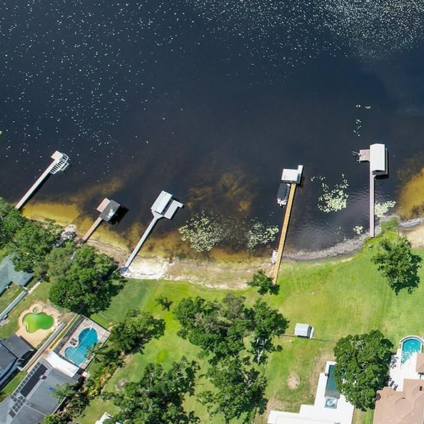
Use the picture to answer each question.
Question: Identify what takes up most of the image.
water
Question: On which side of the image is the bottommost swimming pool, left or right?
right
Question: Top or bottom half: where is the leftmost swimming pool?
bottom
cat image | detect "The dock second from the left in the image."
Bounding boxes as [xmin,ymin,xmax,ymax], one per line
[80,196,131,243]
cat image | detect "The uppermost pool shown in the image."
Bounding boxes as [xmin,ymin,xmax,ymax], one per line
[21,307,55,334]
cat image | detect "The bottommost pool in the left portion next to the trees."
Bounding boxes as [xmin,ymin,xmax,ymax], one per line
[62,326,99,365]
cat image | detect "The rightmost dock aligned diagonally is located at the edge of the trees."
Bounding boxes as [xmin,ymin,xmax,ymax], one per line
[123,191,185,271]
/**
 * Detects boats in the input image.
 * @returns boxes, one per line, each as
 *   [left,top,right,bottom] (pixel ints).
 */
[271,251,277,263]
[277,183,290,209]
